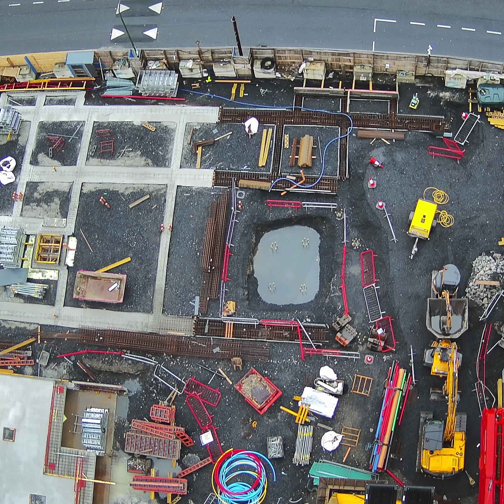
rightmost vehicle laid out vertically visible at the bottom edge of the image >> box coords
[414,348,470,480]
